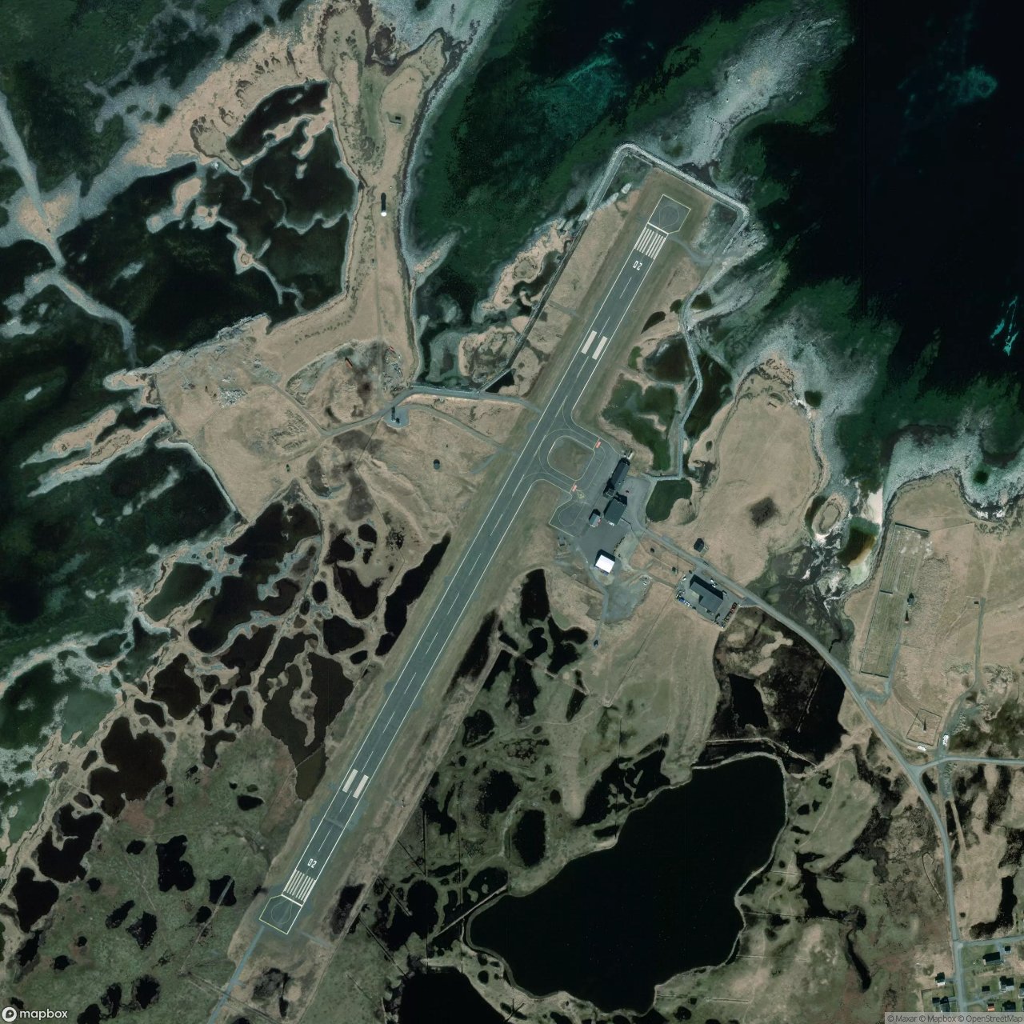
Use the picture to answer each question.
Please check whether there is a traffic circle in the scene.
No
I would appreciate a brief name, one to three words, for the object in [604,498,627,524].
hangar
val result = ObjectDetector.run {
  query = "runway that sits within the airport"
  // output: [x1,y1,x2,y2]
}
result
[259,194,691,935]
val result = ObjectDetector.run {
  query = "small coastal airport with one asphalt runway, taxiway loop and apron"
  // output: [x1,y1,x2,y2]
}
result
[259,194,691,935]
